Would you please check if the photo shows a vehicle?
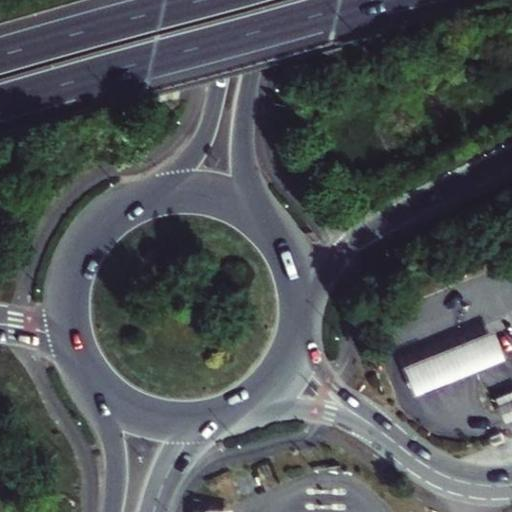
Yes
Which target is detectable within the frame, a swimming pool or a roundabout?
roundabout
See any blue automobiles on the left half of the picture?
No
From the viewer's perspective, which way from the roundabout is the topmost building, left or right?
to its right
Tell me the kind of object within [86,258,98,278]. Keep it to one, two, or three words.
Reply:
vehicle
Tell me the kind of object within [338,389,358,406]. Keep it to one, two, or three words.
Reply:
car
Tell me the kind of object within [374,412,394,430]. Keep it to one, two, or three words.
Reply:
car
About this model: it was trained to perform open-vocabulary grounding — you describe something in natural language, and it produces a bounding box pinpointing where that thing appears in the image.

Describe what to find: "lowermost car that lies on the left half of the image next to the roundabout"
[176,452,192,473]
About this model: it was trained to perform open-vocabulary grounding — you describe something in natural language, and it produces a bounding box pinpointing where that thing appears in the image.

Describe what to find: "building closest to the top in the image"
[404,333,507,398]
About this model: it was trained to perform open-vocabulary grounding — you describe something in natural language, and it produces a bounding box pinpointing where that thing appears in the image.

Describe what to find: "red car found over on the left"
[71,331,84,351]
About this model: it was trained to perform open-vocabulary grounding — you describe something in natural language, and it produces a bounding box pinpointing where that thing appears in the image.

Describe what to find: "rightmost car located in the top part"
[366,2,388,14]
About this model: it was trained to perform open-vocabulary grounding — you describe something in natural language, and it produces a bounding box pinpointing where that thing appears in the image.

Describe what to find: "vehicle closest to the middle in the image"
[279,246,298,280]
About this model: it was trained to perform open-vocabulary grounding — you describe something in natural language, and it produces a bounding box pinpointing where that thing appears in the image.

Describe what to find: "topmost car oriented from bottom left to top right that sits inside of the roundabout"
[128,204,147,222]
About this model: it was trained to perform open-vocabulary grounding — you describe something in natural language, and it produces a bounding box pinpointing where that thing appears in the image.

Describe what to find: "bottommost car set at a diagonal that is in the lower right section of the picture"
[410,441,430,460]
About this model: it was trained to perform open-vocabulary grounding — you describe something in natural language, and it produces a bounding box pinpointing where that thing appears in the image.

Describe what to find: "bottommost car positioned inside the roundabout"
[200,421,219,440]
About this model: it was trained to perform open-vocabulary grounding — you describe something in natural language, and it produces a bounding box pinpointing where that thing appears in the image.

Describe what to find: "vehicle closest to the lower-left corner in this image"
[96,396,110,416]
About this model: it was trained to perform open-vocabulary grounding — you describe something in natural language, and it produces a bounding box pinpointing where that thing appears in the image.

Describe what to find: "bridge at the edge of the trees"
[144,0,354,102]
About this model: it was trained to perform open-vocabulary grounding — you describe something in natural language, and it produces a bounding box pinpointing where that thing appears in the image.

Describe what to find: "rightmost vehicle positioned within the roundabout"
[309,344,322,364]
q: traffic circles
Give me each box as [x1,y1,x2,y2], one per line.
[42,163,334,445]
